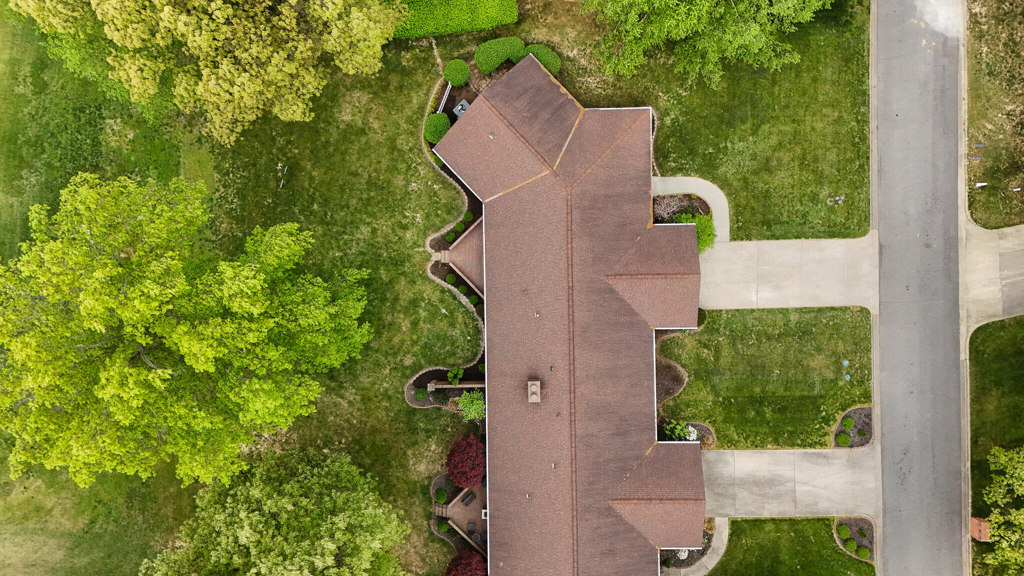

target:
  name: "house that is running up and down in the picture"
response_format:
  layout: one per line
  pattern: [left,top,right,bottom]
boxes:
[431,53,706,576]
